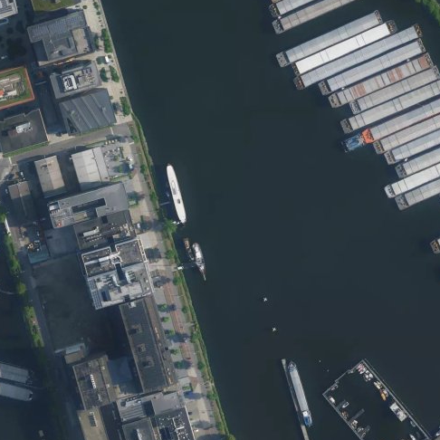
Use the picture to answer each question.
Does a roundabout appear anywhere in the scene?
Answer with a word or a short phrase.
No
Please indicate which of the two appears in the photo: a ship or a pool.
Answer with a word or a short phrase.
ship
